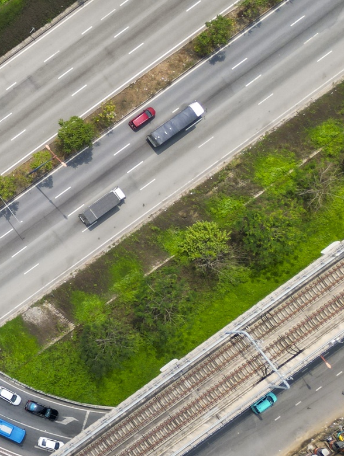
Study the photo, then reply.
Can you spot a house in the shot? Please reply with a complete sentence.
No, I can see no house in this picture.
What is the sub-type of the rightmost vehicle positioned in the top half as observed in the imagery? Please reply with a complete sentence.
In the photo, the rightmost vehicle positioned in the top half shows up as a truck.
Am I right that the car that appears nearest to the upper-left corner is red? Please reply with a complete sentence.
Yes, red is the color of the car that appears nearest to the upper-left corner.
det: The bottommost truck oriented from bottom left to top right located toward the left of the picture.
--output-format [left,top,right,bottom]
[77,184,130,226]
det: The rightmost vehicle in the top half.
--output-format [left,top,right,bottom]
[144,98,209,148]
